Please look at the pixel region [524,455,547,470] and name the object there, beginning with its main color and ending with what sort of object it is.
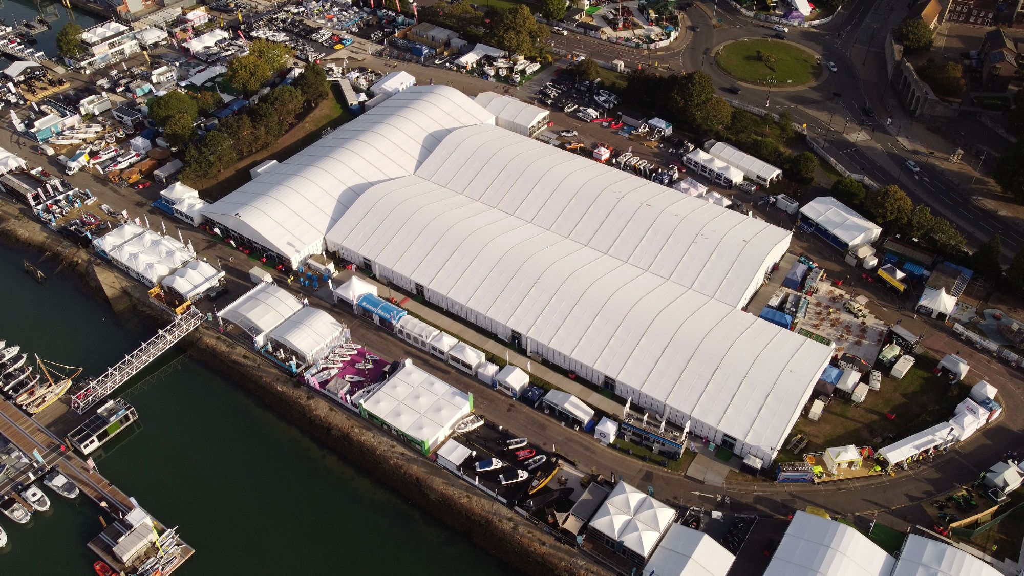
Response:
gray boat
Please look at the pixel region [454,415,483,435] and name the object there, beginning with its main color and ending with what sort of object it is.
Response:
white boat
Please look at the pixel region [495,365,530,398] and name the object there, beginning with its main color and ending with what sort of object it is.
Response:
white tent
